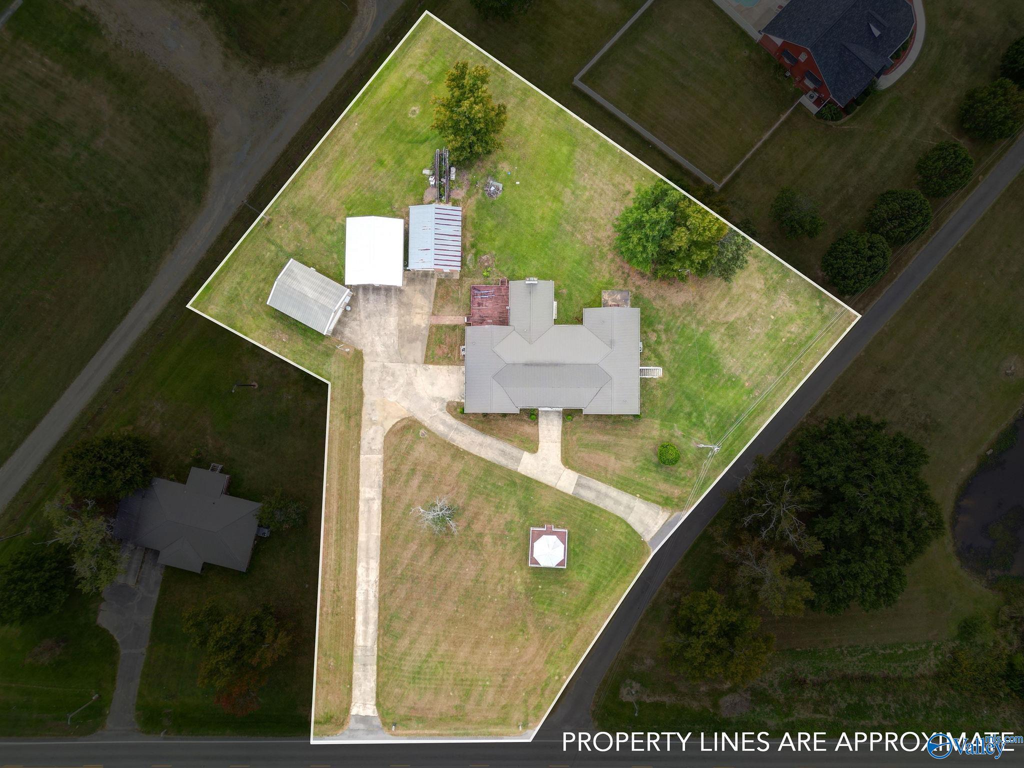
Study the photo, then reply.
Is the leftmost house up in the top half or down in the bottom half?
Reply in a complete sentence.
You can find the leftmost house in the bottom half.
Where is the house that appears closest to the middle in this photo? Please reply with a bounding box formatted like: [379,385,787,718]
[464,276,641,415]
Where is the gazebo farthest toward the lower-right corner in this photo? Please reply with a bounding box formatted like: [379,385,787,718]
[529,523,568,570]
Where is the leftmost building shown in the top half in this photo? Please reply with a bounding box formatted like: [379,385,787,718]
[266,258,352,335]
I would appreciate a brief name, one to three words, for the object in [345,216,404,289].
building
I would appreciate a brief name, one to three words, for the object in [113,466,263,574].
house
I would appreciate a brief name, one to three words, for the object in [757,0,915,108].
house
